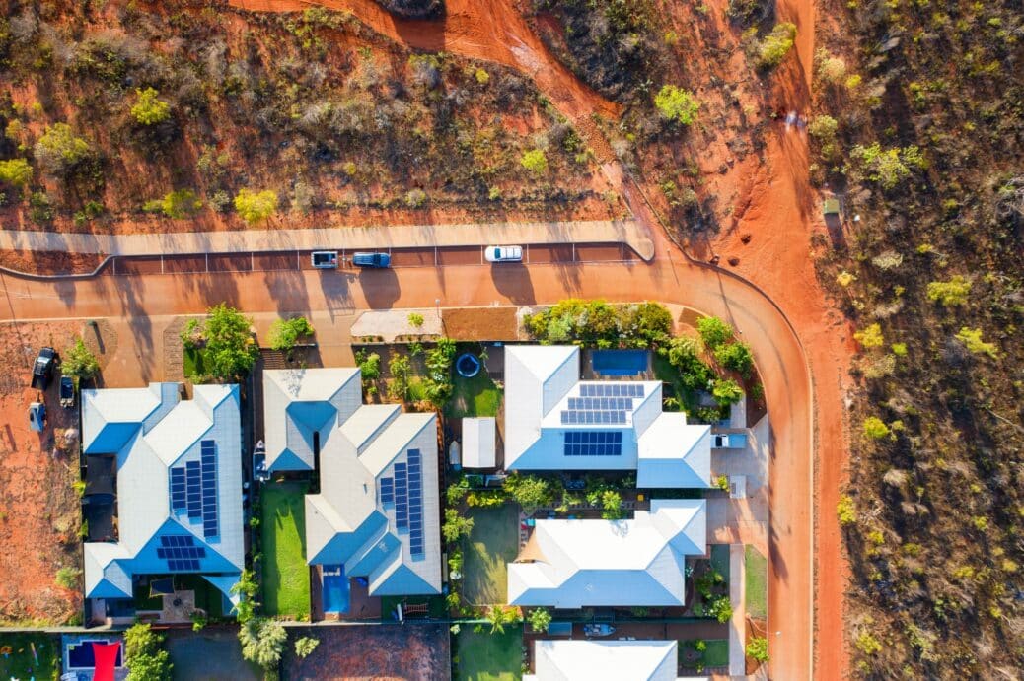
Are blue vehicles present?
Yes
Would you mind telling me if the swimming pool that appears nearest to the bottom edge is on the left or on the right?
left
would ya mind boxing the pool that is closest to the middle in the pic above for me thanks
[589,346,651,377]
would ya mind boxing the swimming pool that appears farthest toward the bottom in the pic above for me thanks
[66,639,125,671]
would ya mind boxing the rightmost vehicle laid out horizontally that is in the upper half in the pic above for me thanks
[485,245,522,263]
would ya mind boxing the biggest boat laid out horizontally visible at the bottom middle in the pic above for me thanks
[580,625,616,638]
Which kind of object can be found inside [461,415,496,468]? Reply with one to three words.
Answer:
shed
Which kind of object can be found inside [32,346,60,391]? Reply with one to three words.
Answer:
truck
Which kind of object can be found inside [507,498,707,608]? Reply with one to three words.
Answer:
house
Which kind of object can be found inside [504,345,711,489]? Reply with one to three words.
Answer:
house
